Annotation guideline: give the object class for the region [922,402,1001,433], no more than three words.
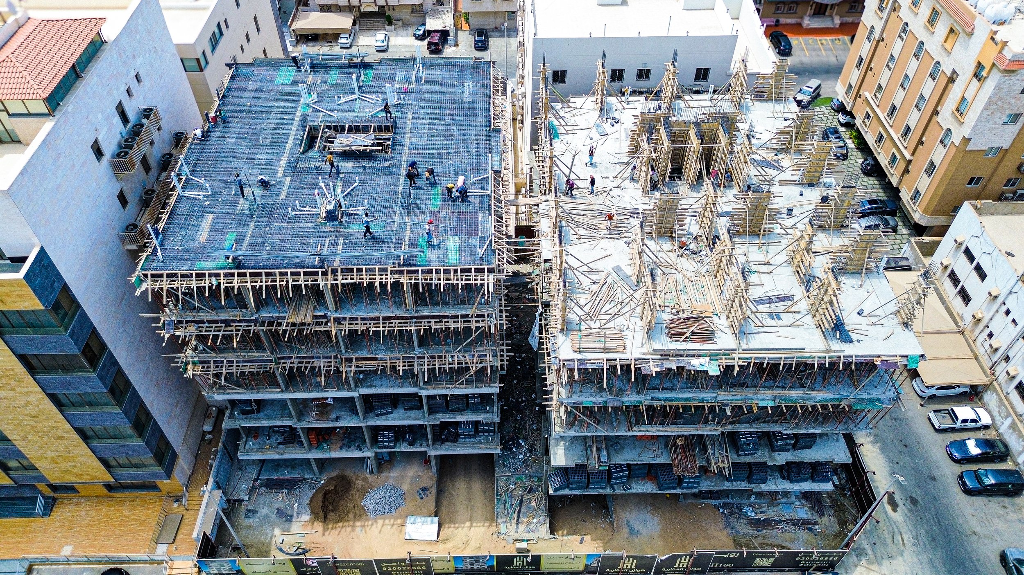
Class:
car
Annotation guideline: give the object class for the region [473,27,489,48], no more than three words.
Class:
car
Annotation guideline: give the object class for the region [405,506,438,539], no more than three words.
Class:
shed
